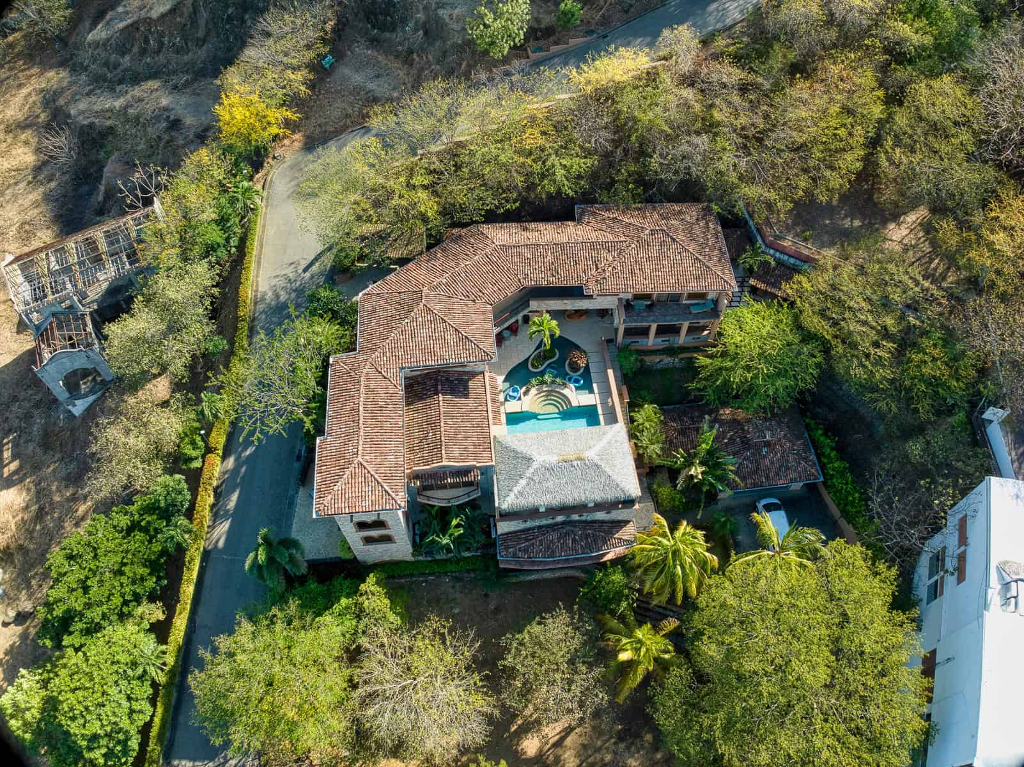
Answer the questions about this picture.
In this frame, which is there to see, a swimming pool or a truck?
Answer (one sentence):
The image shows a swimming pool.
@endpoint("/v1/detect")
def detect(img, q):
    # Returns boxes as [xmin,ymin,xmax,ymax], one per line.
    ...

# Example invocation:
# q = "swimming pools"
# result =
[504,334,605,436]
